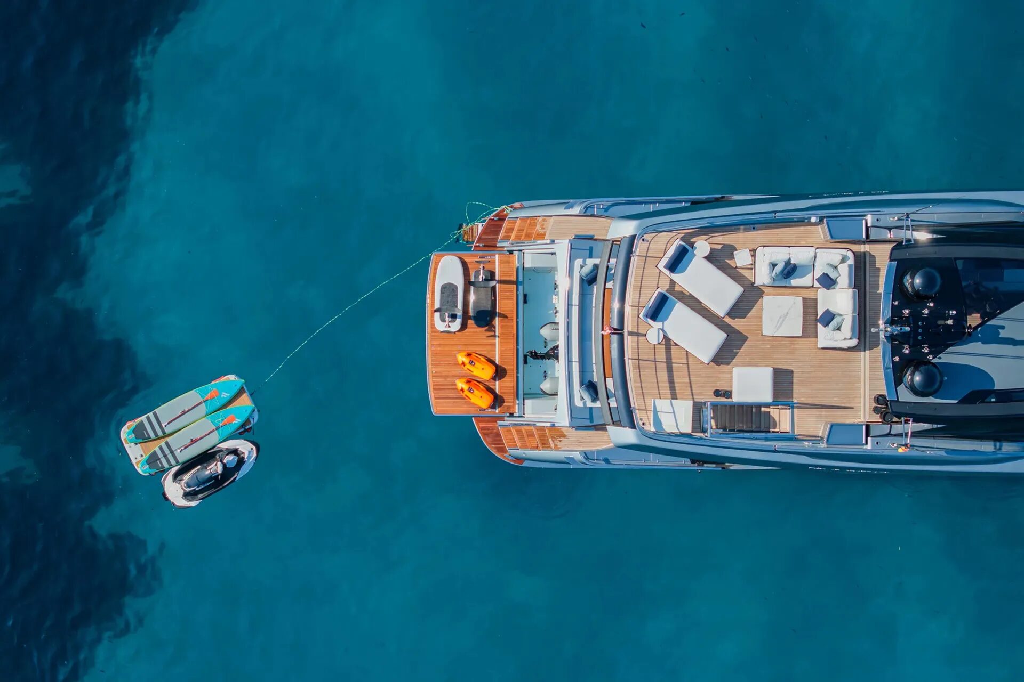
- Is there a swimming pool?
No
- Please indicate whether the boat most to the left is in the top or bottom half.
bottom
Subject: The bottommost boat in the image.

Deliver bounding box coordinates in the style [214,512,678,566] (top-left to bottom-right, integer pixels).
[162,442,262,507]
